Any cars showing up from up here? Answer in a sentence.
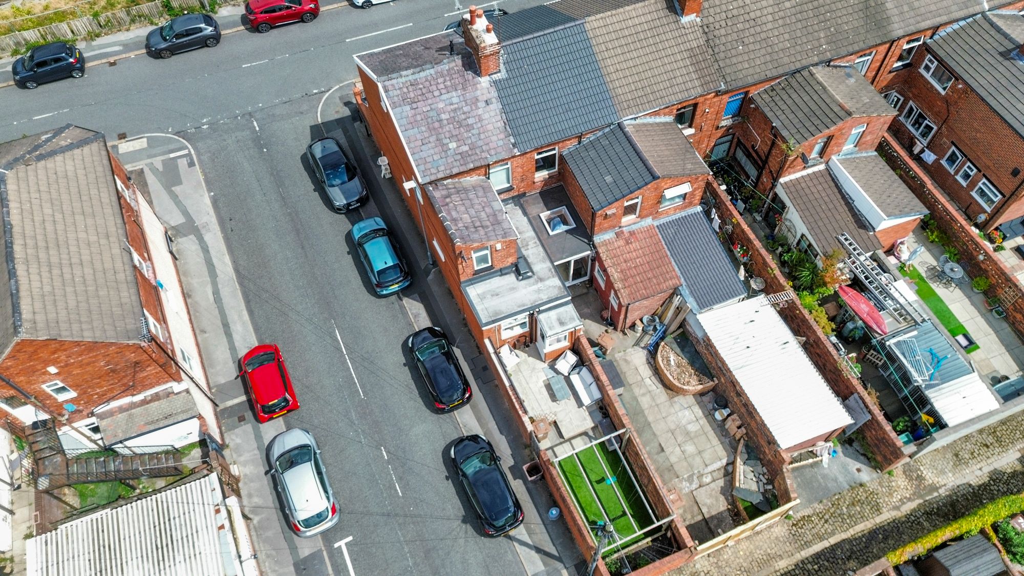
Yes, the image includes a car.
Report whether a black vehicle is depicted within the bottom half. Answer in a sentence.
Yes, a black vehicle is visible within the bottom half.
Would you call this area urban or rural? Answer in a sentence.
It looks urban.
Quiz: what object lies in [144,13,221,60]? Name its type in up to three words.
car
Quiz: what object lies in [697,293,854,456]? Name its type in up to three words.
shed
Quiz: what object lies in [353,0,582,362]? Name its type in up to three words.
house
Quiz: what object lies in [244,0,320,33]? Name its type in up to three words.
car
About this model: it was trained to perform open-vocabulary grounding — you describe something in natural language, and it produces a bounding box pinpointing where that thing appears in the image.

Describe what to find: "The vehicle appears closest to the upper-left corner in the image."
[11,41,87,90]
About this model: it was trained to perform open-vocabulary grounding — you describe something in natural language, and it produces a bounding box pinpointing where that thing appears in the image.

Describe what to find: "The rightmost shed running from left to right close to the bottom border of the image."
[911,532,1014,576]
